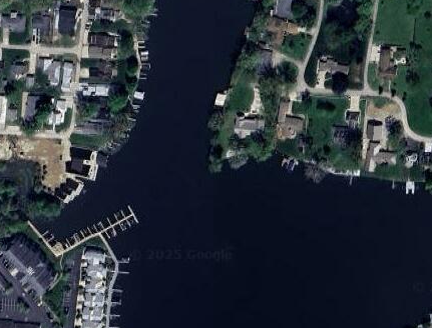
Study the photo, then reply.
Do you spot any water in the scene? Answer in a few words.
Yes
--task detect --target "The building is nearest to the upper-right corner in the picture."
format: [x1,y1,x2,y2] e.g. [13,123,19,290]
[376,45,400,74]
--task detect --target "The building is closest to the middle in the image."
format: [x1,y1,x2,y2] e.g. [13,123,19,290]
[235,118,264,139]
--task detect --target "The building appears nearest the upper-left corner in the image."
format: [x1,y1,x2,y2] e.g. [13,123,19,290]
[0,12,25,34]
